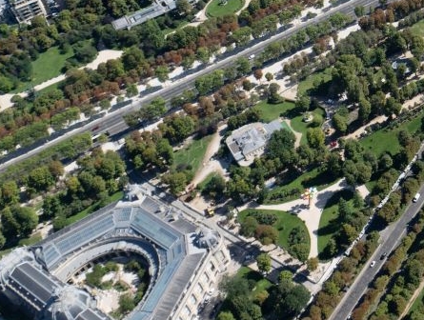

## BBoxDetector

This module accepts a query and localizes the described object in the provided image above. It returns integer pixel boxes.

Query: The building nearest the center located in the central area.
[224,122,289,174]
